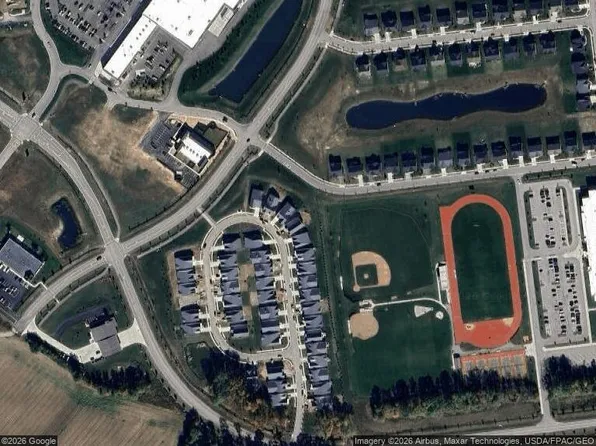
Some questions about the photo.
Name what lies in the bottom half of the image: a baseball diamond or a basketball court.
baseball diamond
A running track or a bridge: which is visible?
running track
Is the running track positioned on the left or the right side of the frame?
right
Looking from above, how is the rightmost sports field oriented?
vertically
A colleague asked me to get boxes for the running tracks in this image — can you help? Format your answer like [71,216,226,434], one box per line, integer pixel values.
[439,194,521,347]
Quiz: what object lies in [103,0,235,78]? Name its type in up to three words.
building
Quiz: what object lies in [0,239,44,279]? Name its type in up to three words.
building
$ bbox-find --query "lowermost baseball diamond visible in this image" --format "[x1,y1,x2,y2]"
[346,310,452,388]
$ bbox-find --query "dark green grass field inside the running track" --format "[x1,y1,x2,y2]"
[451,203,513,323]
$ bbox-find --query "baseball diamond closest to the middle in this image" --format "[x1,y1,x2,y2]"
[340,207,432,300]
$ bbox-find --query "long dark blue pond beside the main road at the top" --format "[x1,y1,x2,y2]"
[210,0,304,104]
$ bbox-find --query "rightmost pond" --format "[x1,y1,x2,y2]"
[346,83,547,130]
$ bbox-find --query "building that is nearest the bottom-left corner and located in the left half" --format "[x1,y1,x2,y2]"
[89,318,122,353]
